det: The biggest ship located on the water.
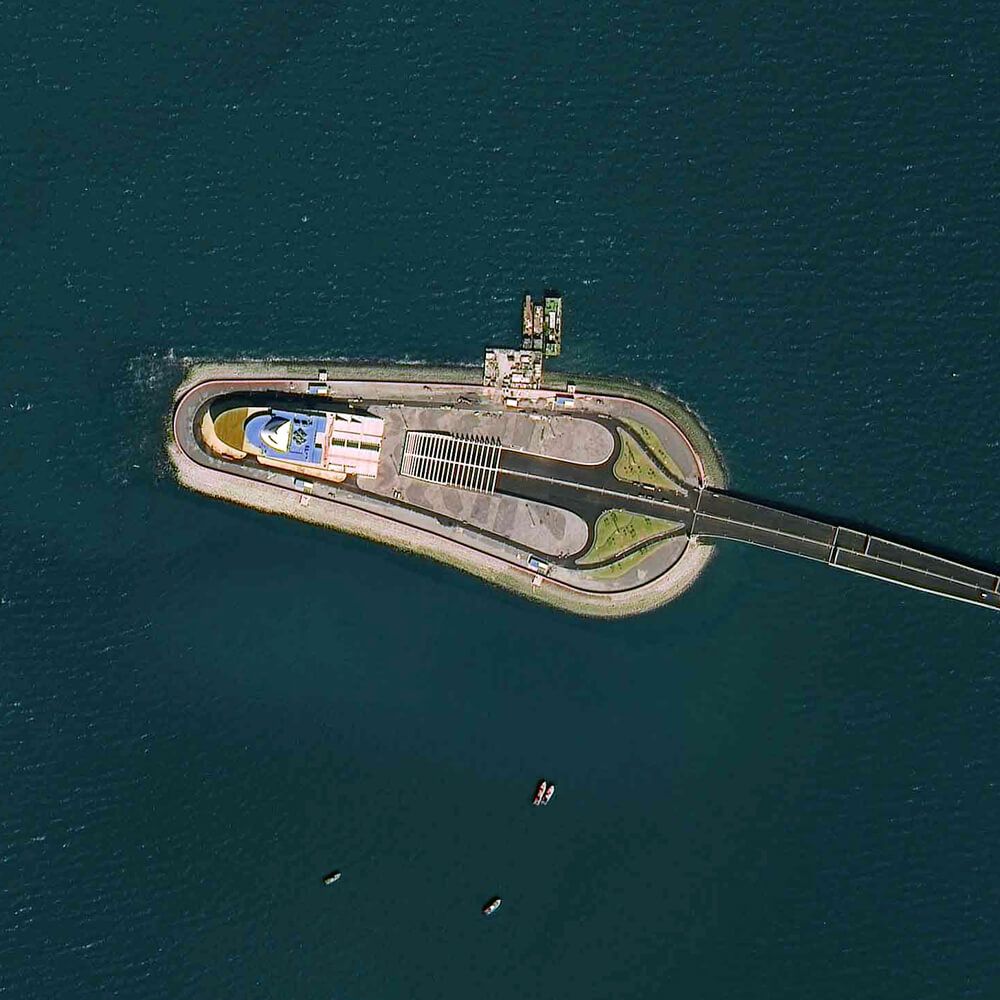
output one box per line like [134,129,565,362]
[545,299,562,356]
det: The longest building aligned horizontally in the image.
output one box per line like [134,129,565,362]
[202,403,384,482]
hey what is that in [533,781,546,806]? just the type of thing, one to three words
boat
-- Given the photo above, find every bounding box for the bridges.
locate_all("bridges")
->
[690,488,1000,610]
